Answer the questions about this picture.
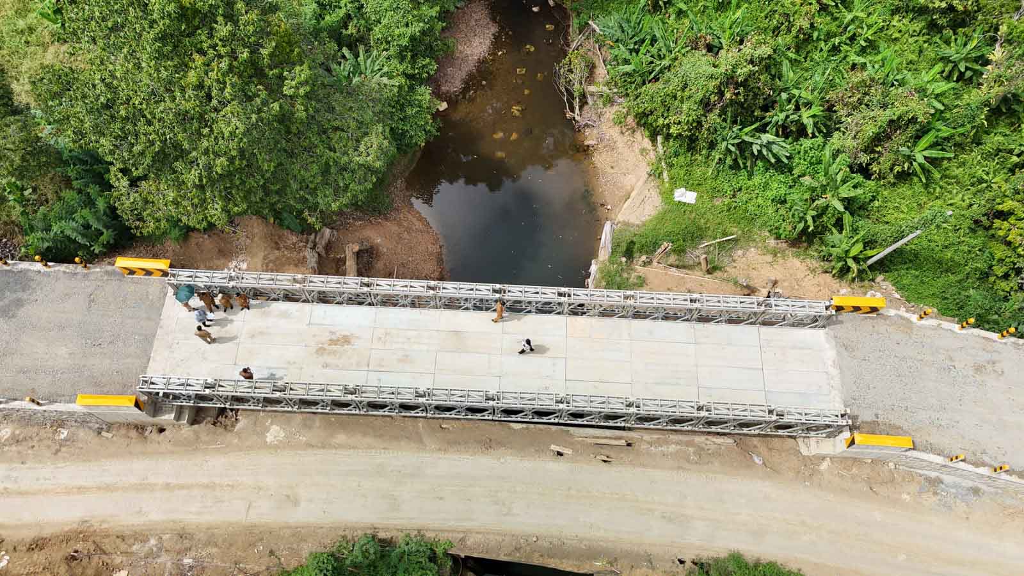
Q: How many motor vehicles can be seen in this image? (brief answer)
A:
0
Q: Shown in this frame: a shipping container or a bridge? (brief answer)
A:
bridge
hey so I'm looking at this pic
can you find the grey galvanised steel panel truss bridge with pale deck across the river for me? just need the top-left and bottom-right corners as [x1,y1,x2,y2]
[139,267,853,443]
